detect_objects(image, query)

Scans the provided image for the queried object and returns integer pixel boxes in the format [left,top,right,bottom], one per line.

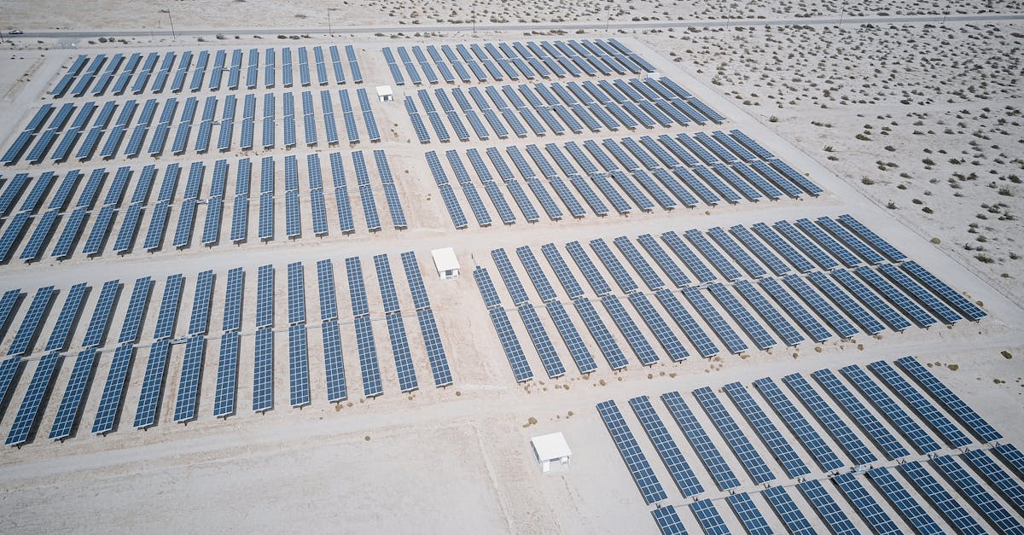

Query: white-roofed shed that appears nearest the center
[431,248,461,281]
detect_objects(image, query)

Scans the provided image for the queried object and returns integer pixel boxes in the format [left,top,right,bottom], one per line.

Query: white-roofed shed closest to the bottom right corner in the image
[530,433,571,472]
